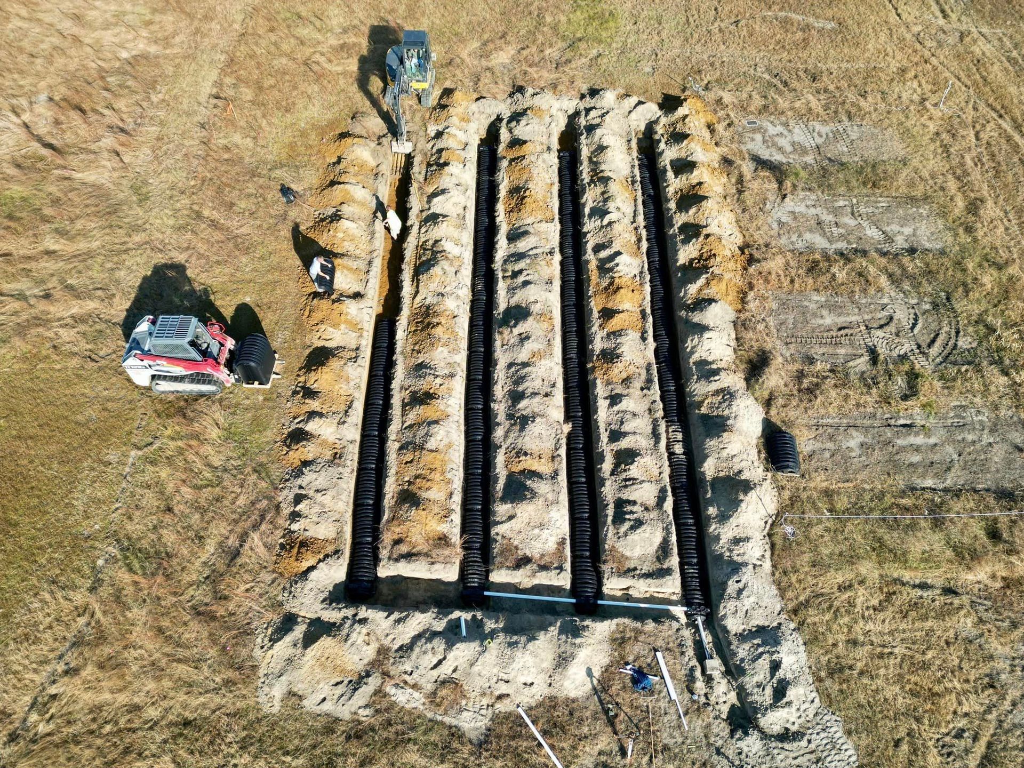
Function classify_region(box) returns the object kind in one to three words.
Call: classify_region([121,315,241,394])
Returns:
work vehicle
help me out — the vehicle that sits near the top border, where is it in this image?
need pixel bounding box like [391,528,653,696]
[380,27,437,154]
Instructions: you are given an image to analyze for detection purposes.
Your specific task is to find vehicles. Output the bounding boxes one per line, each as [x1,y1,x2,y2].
[380,27,437,154]
[121,315,241,394]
